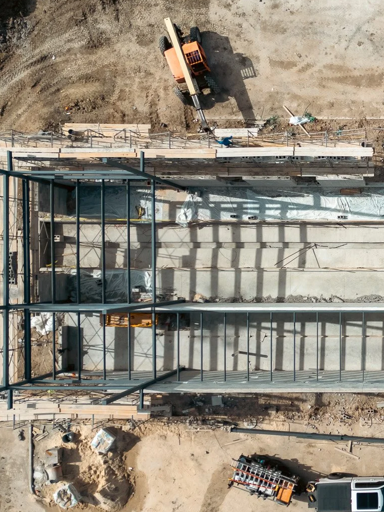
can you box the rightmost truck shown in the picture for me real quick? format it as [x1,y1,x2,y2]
[306,474,384,512]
